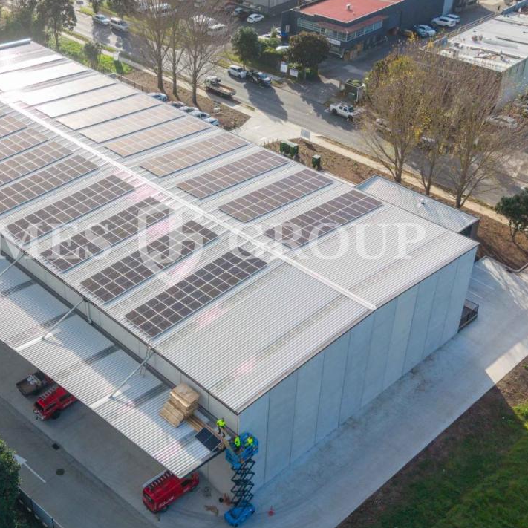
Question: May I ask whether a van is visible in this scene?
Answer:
Yes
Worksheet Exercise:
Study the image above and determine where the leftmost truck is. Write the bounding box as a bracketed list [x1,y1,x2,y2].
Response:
[14,366,58,398]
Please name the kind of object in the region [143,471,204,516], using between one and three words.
van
